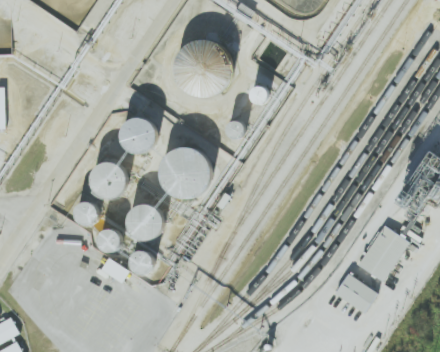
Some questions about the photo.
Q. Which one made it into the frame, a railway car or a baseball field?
railway car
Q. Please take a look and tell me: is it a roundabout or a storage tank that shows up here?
storage tank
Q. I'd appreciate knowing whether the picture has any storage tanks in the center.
Yes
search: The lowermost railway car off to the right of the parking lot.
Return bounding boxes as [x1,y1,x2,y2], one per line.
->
[243,306,270,330]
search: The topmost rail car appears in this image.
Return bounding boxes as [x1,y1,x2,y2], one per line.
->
[413,31,433,58]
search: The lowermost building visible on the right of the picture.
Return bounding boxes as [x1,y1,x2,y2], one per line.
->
[338,274,379,312]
